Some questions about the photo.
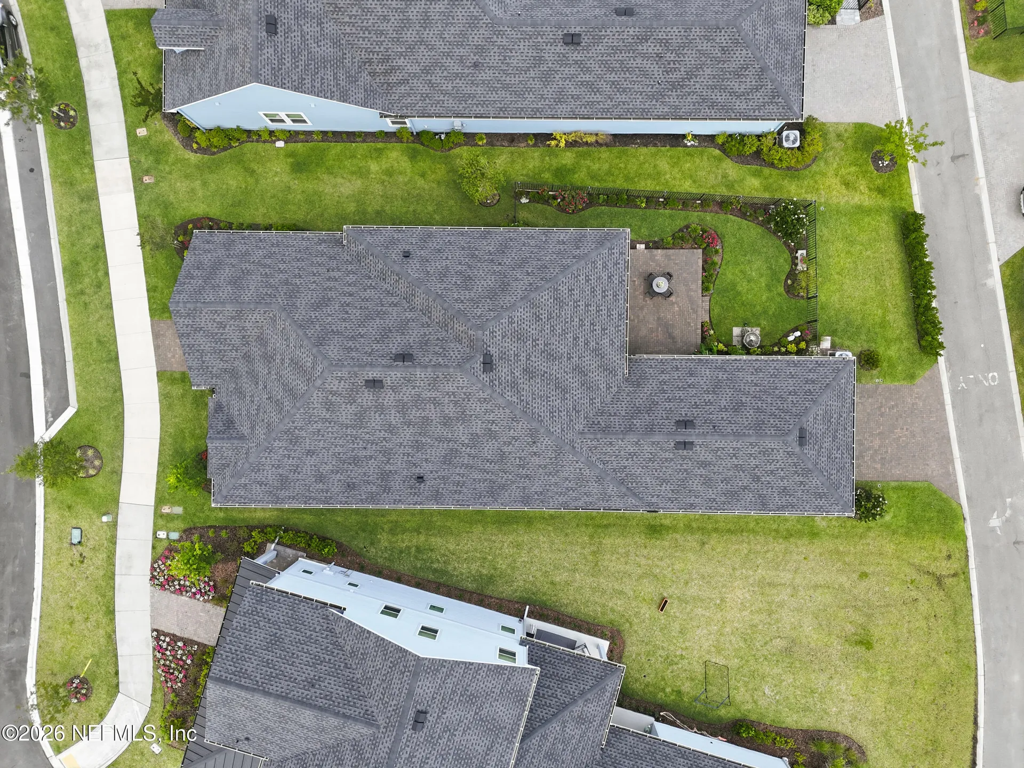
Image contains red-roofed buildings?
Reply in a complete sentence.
No, the picture doesn't show any red-roofed building.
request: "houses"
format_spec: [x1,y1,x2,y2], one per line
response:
[179,533,793,768]
[170,225,858,516]
[150,0,808,139]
